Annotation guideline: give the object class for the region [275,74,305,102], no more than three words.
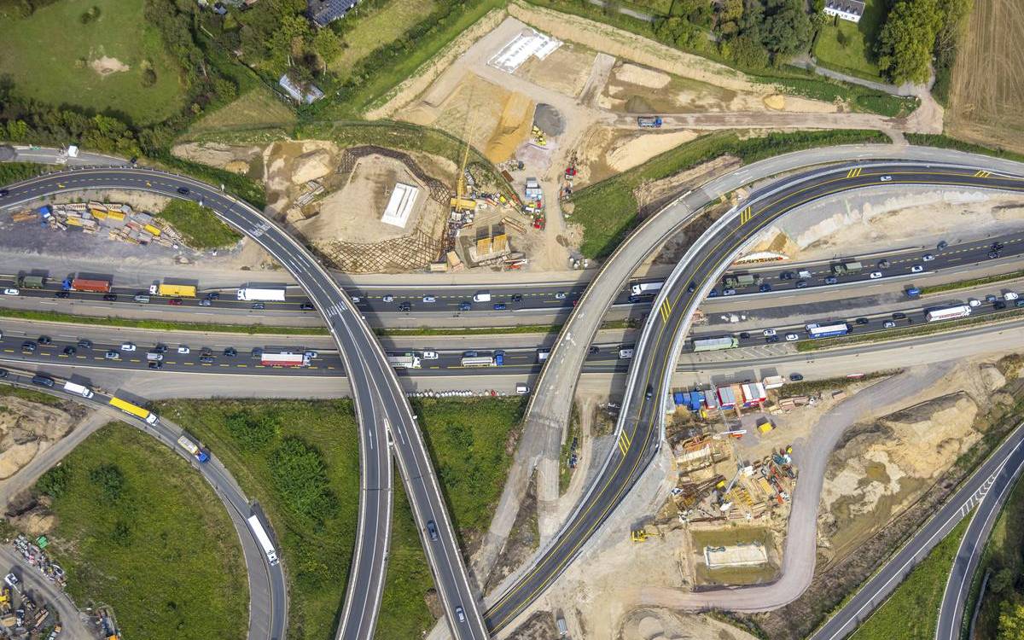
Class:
shed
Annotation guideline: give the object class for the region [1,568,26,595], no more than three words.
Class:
work vehicle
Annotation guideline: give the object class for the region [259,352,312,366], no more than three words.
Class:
vehicle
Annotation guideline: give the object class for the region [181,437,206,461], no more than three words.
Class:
truck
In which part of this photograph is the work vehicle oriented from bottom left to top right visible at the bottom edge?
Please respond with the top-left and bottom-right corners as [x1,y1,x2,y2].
[0,586,20,609]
